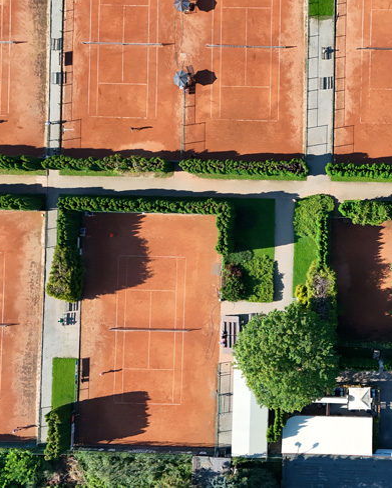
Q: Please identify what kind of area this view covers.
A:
sports ground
